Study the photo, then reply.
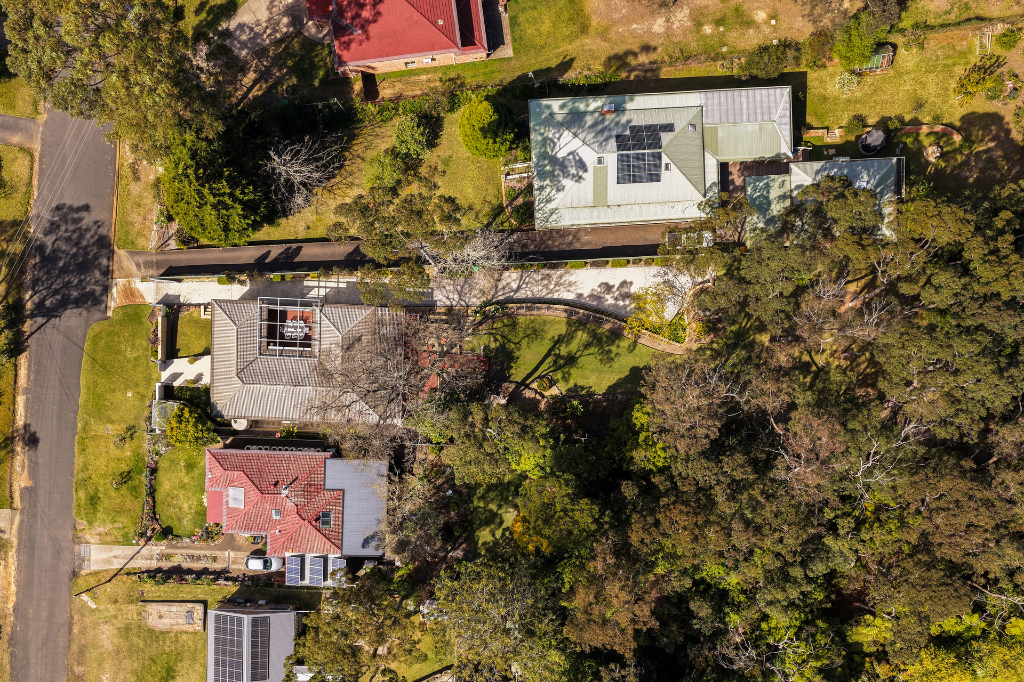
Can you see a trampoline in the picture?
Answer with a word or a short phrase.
Yes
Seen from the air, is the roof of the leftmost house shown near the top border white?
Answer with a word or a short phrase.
No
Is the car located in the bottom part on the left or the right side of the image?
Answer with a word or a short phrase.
left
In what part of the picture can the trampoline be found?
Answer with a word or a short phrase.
top right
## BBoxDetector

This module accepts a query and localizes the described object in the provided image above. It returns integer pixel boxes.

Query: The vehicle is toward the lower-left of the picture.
[244,554,283,574]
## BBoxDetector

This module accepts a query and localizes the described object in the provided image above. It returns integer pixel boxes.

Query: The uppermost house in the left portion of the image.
[305,0,489,77]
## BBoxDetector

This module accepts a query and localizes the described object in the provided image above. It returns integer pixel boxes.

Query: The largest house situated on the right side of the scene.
[528,85,794,234]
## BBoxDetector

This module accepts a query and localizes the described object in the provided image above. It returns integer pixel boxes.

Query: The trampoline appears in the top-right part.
[857,125,892,156]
